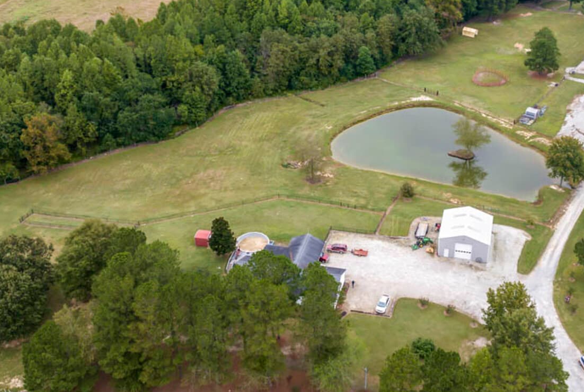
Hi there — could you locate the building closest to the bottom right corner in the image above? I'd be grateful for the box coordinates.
[438,200,496,266]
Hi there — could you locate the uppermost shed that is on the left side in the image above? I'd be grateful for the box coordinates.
[193,228,215,246]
